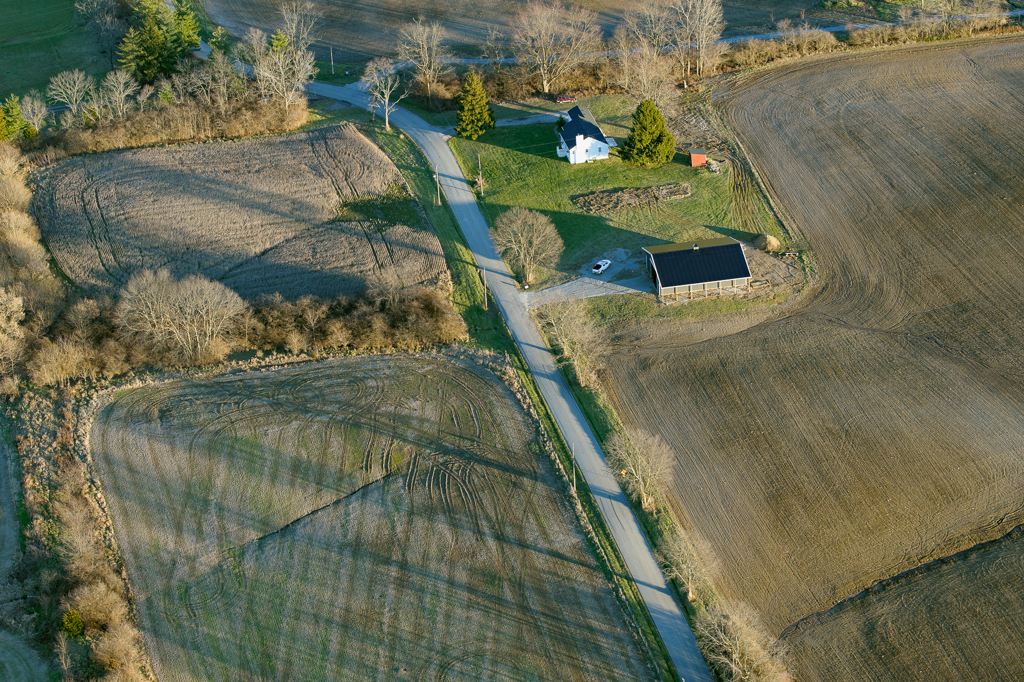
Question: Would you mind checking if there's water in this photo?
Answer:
No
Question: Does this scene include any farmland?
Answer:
Yes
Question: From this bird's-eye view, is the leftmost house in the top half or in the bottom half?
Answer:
top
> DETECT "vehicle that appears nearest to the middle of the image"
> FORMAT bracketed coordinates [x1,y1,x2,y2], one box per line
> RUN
[589,259,614,273]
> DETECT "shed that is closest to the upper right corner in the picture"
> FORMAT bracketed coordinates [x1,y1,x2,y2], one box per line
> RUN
[687,146,708,167]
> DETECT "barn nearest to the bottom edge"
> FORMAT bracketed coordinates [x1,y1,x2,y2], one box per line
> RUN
[639,239,753,302]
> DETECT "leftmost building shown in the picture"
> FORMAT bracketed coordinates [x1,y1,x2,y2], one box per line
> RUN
[554,103,611,164]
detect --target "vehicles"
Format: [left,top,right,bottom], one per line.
[589,259,614,273]
[556,94,577,104]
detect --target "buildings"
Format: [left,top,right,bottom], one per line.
[687,146,708,167]
[639,239,753,302]
[554,103,611,164]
